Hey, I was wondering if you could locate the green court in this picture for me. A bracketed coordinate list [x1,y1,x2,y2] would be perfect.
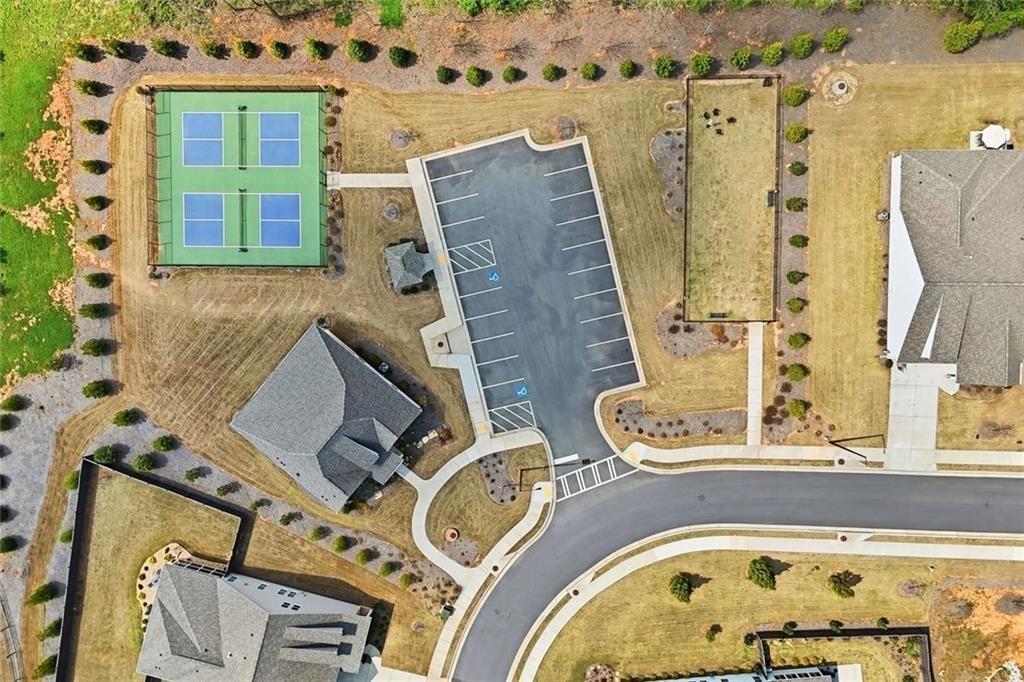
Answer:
[157,90,327,265]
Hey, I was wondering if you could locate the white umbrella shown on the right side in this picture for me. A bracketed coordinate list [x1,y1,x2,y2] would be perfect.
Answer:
[974,125,1003,149]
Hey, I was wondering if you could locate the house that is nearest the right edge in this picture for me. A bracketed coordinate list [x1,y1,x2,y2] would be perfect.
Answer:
[889,150,1024,387]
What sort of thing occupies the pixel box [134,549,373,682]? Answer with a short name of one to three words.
house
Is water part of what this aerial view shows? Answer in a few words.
No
